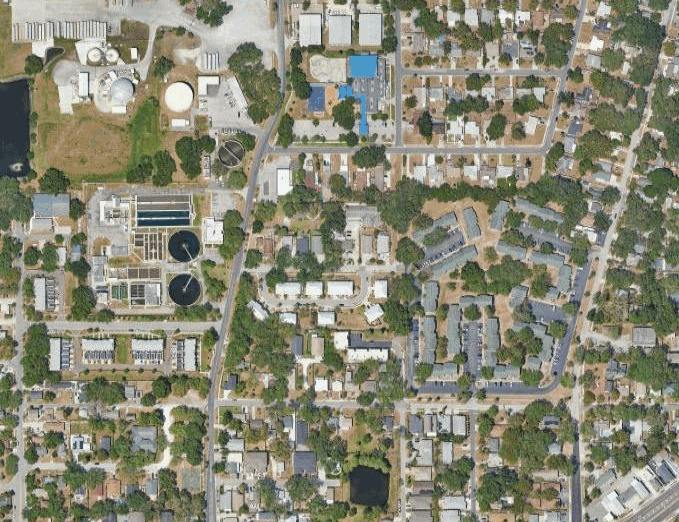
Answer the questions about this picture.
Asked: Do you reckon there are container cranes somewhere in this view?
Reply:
No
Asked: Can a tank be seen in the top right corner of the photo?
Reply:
No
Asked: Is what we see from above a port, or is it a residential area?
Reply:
residential area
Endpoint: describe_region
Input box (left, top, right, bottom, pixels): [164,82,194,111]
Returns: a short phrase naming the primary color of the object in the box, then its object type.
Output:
white storage tank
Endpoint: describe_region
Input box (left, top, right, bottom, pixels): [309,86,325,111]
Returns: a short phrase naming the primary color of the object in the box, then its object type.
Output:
blue sports court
